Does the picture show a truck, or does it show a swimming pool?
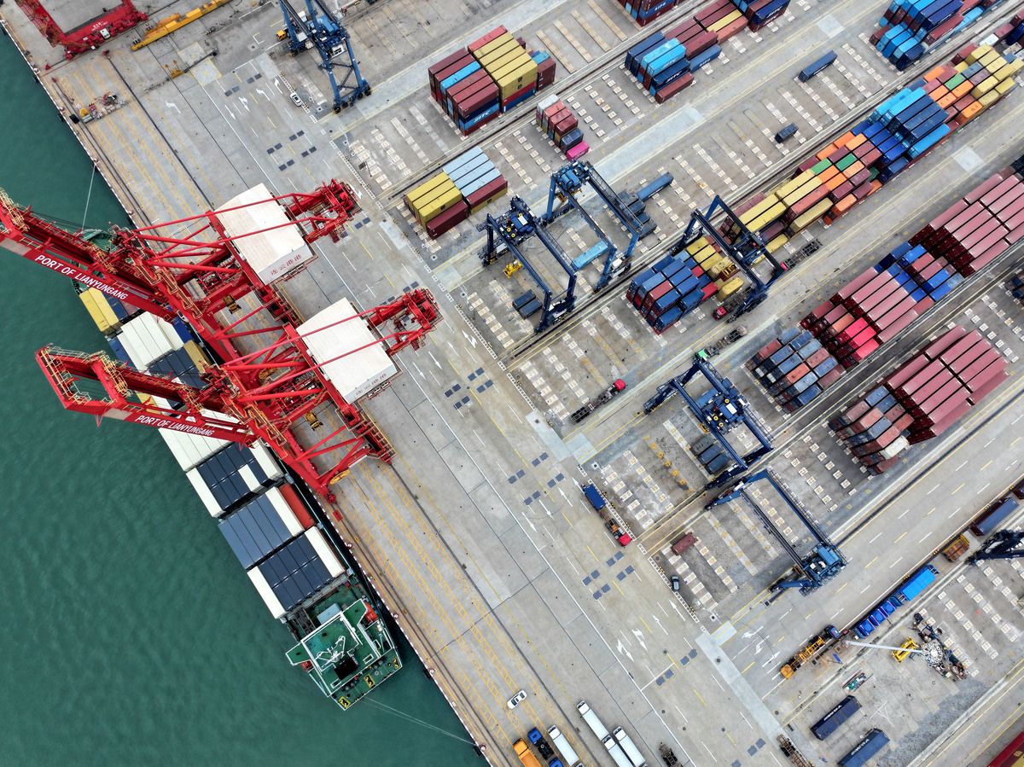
truck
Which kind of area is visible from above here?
port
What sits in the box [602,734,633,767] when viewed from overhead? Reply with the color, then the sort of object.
white truck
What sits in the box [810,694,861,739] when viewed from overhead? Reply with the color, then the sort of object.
blue shipping container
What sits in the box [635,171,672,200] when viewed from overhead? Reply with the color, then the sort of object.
blue shipping container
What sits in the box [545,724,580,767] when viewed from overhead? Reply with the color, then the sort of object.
white truck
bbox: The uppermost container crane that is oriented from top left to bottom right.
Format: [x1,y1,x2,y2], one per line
[274,0,372,113]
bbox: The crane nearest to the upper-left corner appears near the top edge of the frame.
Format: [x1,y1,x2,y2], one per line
[10,0,147,61]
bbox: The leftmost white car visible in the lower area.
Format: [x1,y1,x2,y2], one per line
[507,690,527,710]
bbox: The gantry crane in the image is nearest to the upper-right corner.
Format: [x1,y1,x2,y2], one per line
[671,192,792,324]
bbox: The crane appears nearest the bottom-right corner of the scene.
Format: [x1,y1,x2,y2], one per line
[966,529,1024,565]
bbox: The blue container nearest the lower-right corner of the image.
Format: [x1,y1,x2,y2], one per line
[837,727,889,767]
